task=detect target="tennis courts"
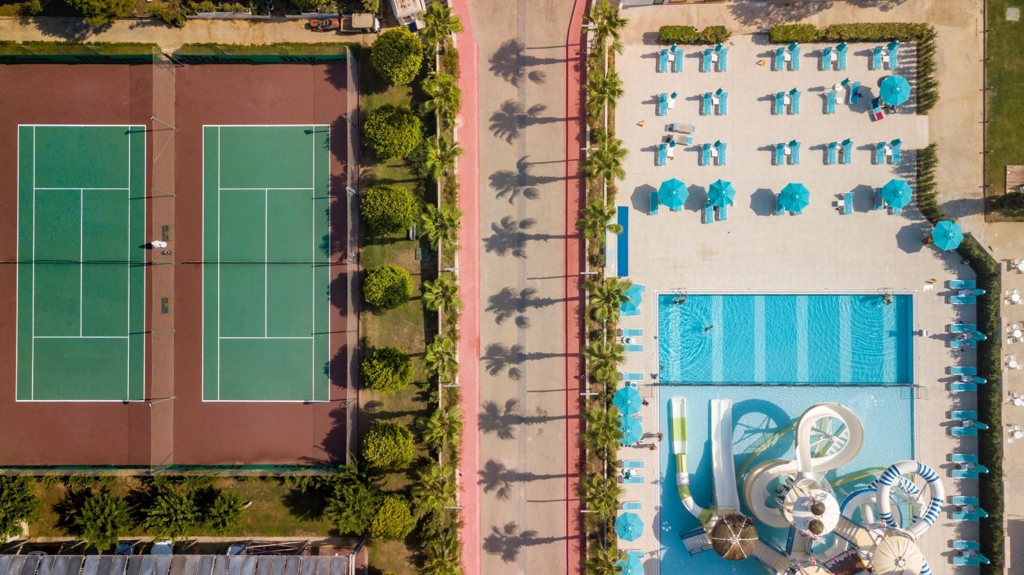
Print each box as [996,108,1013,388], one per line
[0,63,175,465]
[172,63,358,465]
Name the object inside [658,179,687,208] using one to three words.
umbrella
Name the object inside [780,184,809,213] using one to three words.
umbrella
